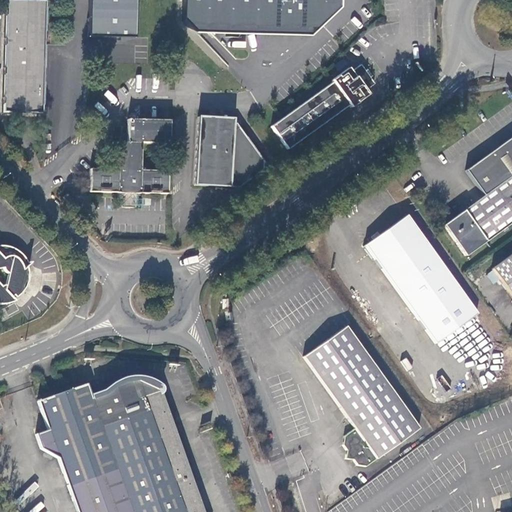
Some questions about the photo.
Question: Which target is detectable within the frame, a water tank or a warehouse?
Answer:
warehouse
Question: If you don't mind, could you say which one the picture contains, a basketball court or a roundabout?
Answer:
roundabout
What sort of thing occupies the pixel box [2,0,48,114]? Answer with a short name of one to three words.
building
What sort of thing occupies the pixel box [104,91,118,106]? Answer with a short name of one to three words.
vehicle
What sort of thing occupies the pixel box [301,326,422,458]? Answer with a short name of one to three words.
building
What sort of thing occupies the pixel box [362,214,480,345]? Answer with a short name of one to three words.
warehouse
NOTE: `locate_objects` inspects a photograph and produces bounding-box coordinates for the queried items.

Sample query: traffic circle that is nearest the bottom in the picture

[90,252,196,344]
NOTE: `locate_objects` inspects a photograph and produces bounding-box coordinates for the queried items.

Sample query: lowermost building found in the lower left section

[33,374,206,512]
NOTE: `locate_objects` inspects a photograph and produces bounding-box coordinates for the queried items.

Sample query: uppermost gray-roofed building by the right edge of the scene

[464,137,512,194]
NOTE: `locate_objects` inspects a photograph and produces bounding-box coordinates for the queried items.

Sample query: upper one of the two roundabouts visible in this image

[440,0,512,84]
